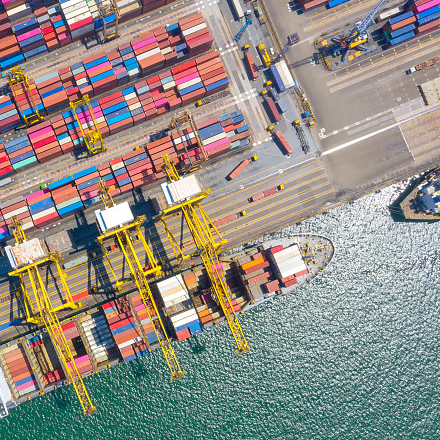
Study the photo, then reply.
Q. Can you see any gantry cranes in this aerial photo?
Yes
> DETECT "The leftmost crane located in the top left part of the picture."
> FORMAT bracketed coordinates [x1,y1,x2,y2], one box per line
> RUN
[0,60,49,129]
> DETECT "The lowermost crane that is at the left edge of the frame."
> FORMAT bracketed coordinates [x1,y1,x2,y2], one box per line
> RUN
[1,215,95,417]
